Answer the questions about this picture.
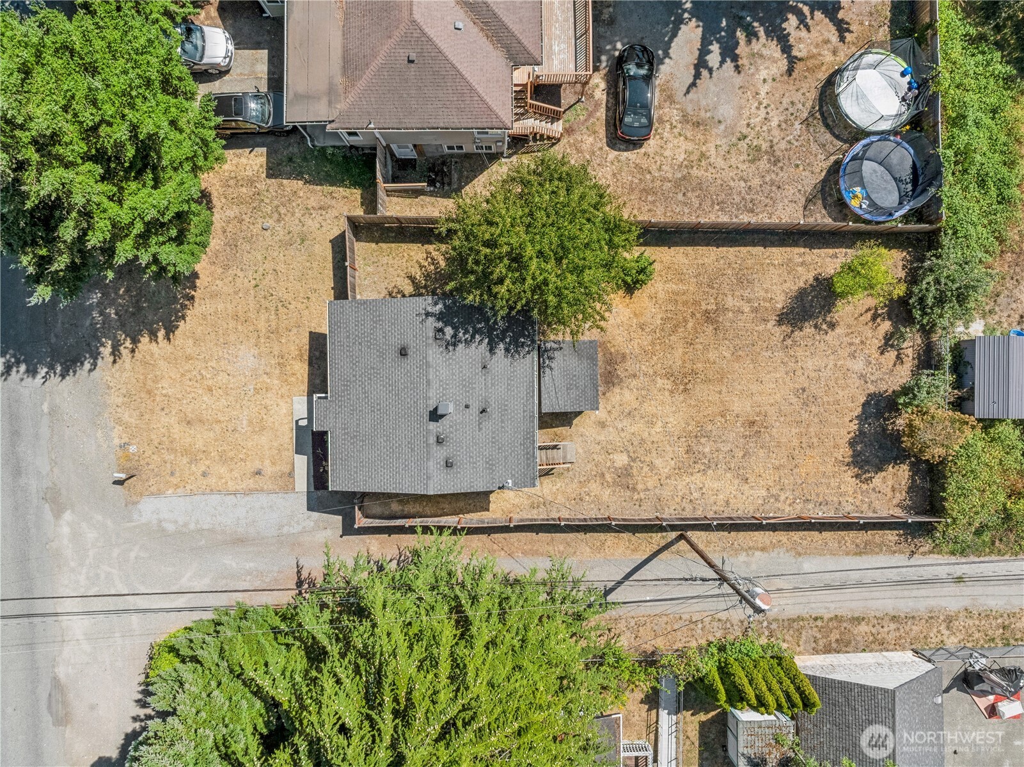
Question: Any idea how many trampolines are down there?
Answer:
2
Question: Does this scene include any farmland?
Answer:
No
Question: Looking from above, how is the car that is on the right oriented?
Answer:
from top to bottom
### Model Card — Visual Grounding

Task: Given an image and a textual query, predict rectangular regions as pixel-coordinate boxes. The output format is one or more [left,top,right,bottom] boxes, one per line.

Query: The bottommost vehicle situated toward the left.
[204,87,301,140]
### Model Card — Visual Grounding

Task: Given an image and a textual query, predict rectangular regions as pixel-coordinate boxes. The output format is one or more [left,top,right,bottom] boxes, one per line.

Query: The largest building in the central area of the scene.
[313,298,541,495]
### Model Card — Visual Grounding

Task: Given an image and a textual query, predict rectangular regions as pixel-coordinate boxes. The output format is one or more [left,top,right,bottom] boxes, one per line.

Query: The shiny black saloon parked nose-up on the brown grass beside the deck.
[612,51,660,151]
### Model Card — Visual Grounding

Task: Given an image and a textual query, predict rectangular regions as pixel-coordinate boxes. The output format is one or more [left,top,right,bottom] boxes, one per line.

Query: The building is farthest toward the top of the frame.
[259,0,545,165]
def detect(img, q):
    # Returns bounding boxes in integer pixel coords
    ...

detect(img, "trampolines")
[826,31,944,134]
[834,122,945,222]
